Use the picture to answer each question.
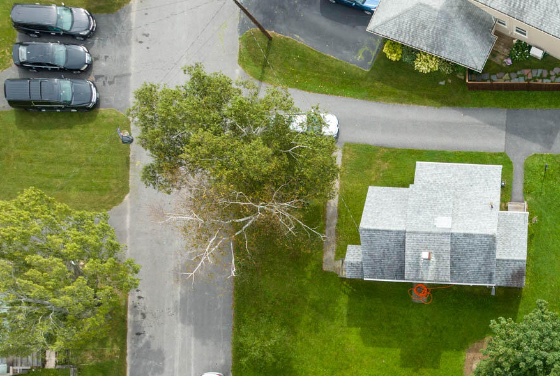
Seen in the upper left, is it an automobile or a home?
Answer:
automobile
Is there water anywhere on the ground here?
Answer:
No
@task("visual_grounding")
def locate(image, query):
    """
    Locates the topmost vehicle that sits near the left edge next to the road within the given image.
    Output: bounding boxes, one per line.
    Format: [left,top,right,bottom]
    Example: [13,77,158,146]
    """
[7,4,97,44]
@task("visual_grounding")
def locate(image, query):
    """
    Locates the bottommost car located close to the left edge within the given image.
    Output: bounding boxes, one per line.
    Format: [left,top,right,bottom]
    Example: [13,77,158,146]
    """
[0,75,99,114]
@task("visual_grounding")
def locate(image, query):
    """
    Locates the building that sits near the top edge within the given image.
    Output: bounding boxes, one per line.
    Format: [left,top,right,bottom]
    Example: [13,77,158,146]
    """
[366,0,560,80]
